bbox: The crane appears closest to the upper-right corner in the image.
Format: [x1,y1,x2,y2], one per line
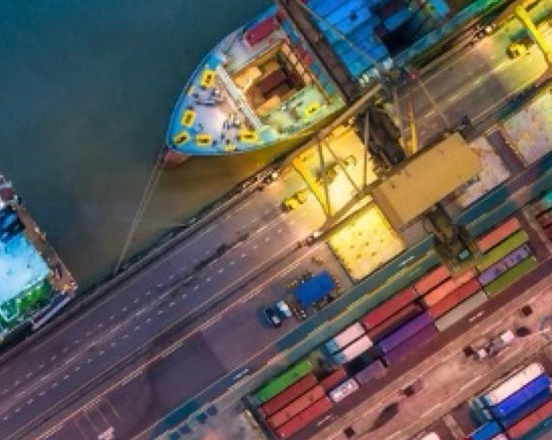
[476,0,552,99]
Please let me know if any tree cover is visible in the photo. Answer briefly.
No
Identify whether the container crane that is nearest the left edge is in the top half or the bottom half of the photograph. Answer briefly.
top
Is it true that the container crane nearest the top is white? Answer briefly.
No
